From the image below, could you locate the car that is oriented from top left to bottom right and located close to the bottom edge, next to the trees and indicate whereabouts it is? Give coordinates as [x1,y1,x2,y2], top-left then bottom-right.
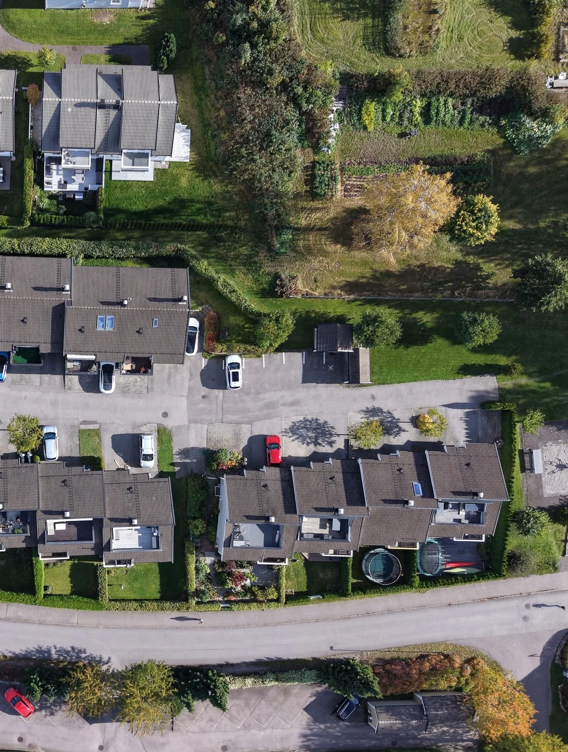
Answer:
[6,687,33,719]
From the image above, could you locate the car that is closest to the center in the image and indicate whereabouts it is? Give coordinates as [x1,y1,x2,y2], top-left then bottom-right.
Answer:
[225,355,241,390]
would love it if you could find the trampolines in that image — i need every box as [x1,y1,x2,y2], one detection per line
[363,551,401,586]
[417,540,446,575]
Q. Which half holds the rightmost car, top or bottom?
bottom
